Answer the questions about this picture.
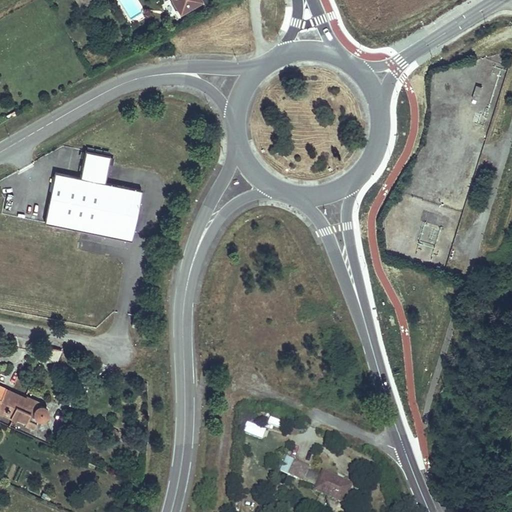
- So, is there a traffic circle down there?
Yes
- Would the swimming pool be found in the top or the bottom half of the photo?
top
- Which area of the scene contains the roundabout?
top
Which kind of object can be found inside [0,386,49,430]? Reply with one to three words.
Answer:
house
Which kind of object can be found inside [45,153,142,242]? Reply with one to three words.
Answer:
building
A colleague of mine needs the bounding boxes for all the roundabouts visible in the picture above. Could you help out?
[224,40,390,207]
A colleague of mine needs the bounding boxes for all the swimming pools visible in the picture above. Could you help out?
[117,0,146,21]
